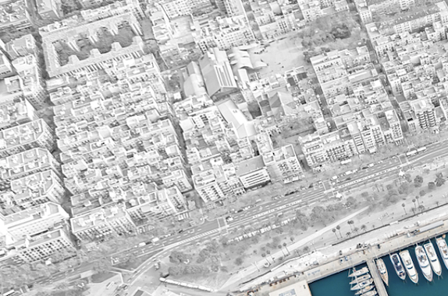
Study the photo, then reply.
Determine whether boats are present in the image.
Yes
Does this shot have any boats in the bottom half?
Yes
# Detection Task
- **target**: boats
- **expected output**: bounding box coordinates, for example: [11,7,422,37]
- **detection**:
[424,231,441,274]
[415,237,433,286]
[435,228,448,268]
[355,279,374,296]
[389,244,404,279]
[376,257,388,286]
[356,286,377,296]
[400,237,418,289]
[349,268,371,285]
[350,273,373,291]
[348,264,368,278]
